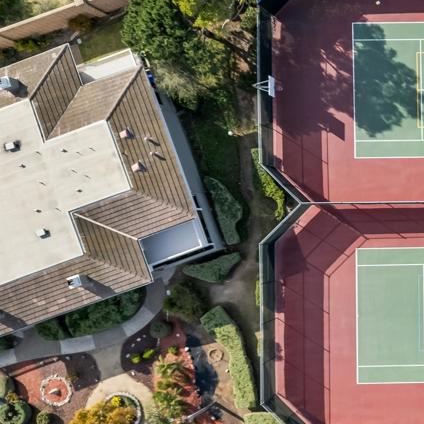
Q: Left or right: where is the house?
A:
left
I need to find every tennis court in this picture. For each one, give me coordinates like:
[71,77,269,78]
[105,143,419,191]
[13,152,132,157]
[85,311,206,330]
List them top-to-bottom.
[270,0,424,208]
[273,207,424,424]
